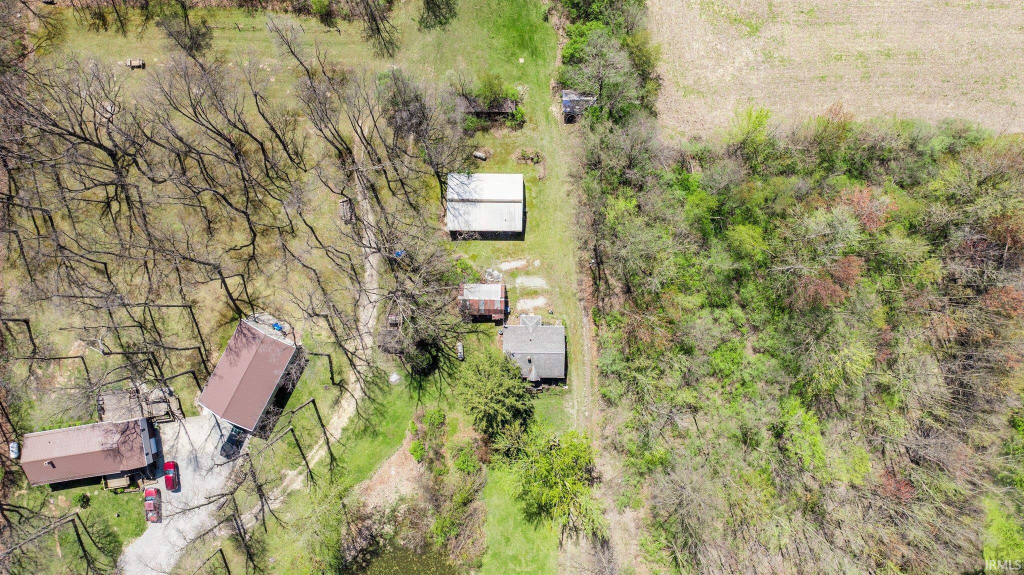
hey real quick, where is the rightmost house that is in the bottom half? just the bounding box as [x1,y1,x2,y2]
[503,315,566,382]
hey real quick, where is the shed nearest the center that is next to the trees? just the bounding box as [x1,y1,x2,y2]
[459,284,504,320]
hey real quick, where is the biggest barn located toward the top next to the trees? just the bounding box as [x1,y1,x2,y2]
[447,173,523,232]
